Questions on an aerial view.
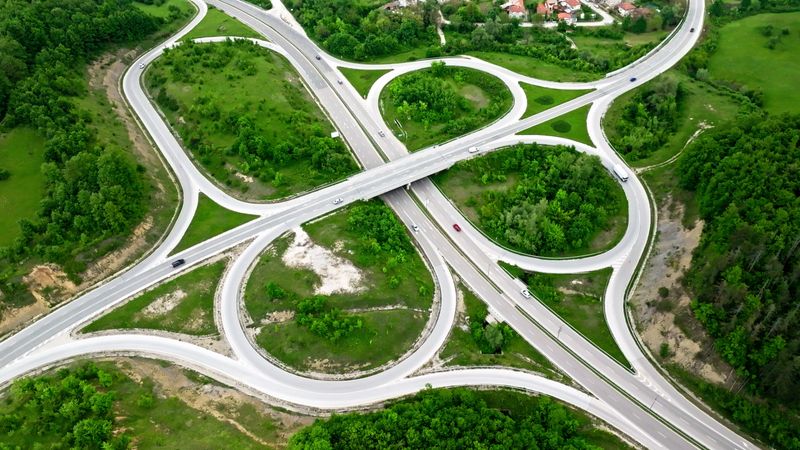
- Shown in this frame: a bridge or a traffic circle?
bridge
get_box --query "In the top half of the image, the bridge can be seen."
[344,140,452,208]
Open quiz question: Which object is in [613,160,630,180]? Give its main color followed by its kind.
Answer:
white vehicle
